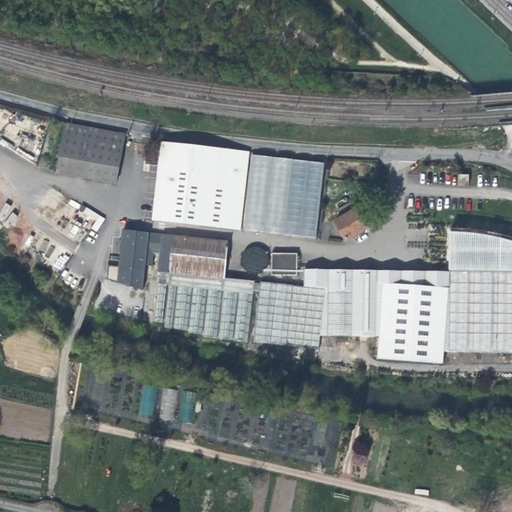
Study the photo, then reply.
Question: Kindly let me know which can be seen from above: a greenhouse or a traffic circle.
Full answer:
The image shows a greenhouse.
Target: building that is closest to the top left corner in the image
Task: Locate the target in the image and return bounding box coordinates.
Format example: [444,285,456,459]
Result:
[55,122,126,186]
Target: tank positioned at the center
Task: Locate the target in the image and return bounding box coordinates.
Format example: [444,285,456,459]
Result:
[241,244,270,274]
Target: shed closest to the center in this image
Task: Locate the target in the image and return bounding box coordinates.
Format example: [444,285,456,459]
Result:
[270,253,298,276]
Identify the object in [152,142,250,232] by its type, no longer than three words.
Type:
building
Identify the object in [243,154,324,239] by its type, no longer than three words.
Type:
greenhouse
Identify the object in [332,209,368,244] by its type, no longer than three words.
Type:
house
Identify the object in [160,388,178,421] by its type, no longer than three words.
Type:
greenhouse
